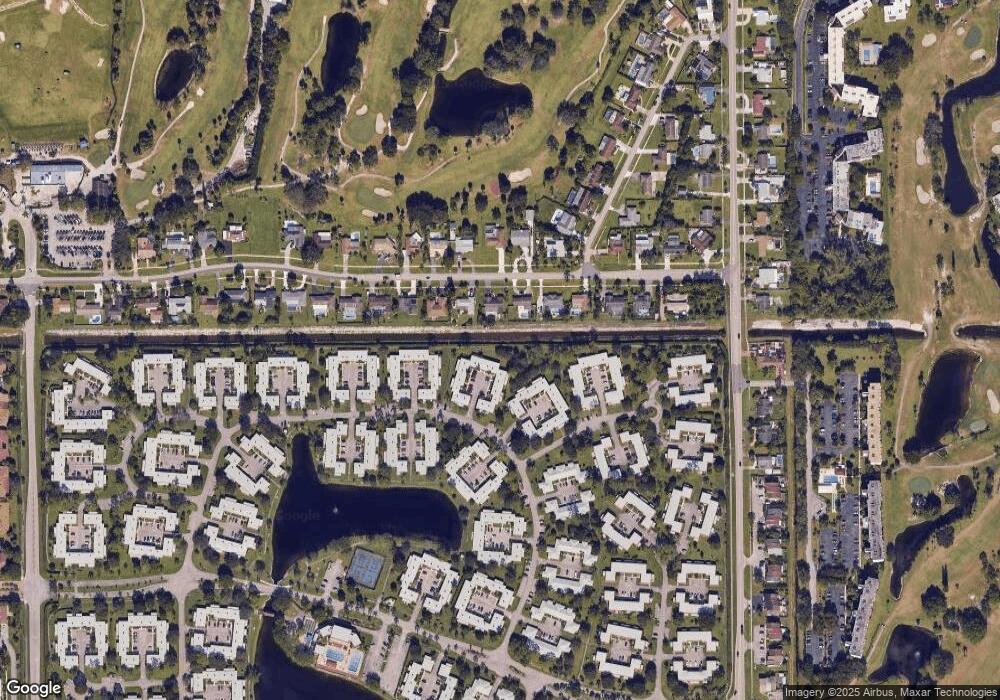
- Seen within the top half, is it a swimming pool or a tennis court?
swimming pool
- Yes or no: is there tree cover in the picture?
Yes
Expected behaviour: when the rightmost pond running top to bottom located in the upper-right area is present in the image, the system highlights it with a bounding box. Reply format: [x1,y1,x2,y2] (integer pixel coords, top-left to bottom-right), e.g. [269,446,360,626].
[943,66,1000,215]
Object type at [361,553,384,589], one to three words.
tennis court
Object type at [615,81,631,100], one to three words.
swimming pool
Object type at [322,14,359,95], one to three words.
pond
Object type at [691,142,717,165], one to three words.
house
